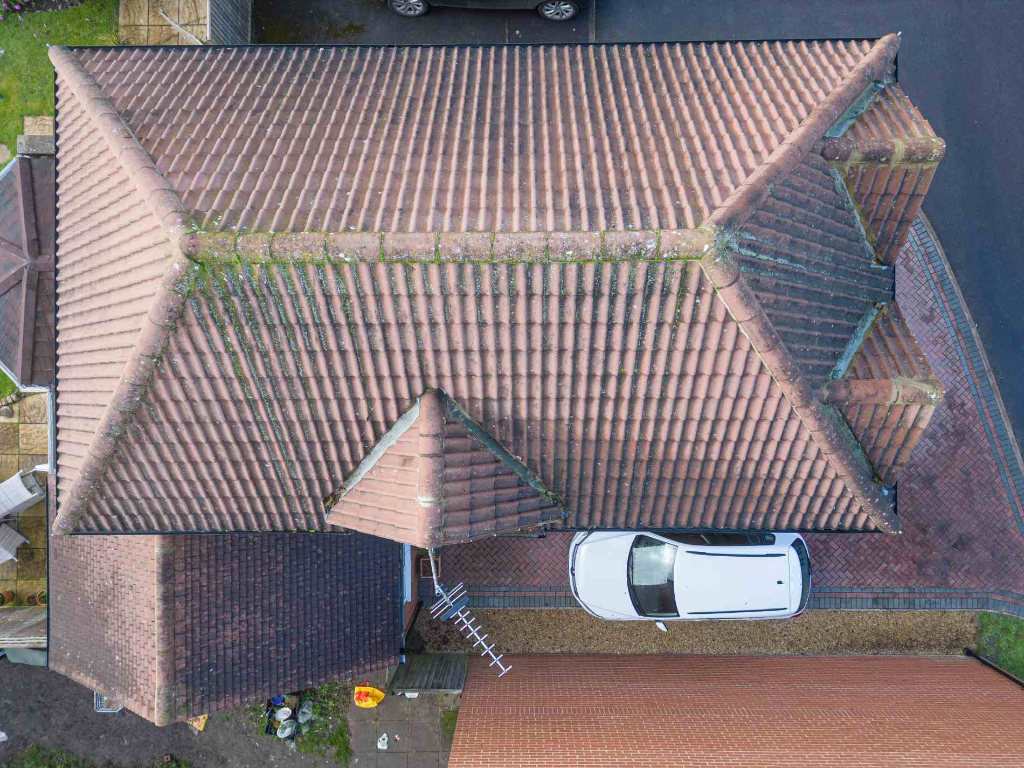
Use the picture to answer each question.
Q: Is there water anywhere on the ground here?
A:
No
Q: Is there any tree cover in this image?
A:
No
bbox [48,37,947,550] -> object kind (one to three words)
house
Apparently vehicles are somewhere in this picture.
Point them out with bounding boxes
[385,0,598,18]
[568,525,811,634]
